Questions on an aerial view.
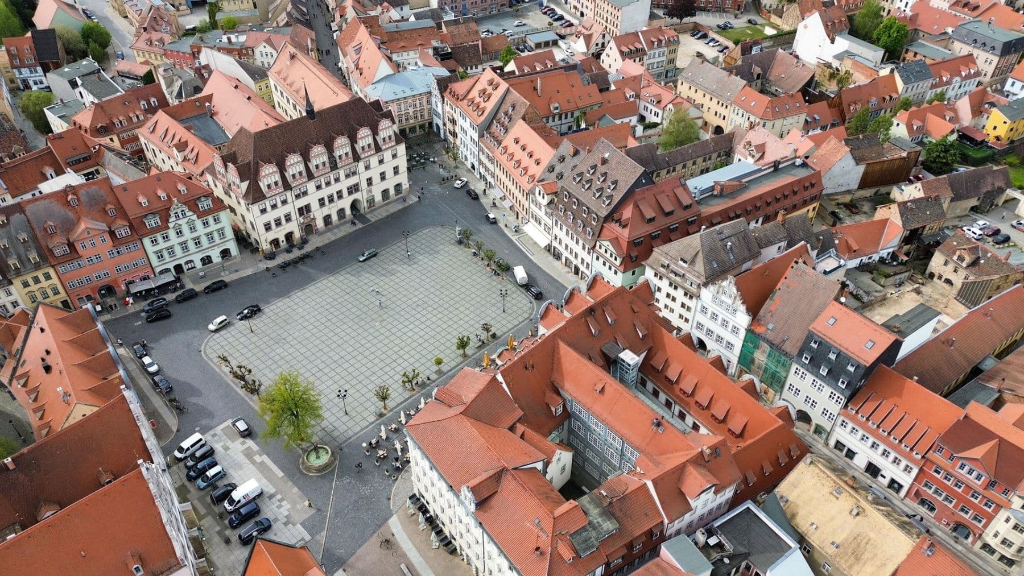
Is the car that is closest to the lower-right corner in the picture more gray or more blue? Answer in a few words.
gray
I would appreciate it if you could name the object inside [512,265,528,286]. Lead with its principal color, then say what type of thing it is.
white car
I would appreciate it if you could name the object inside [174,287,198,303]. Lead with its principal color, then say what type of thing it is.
black car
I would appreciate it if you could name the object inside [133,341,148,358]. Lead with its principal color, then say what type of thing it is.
gray car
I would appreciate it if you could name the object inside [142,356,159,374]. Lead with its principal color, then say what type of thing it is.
white car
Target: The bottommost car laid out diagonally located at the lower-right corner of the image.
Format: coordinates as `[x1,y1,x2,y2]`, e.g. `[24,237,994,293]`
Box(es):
[901,510,936,534]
